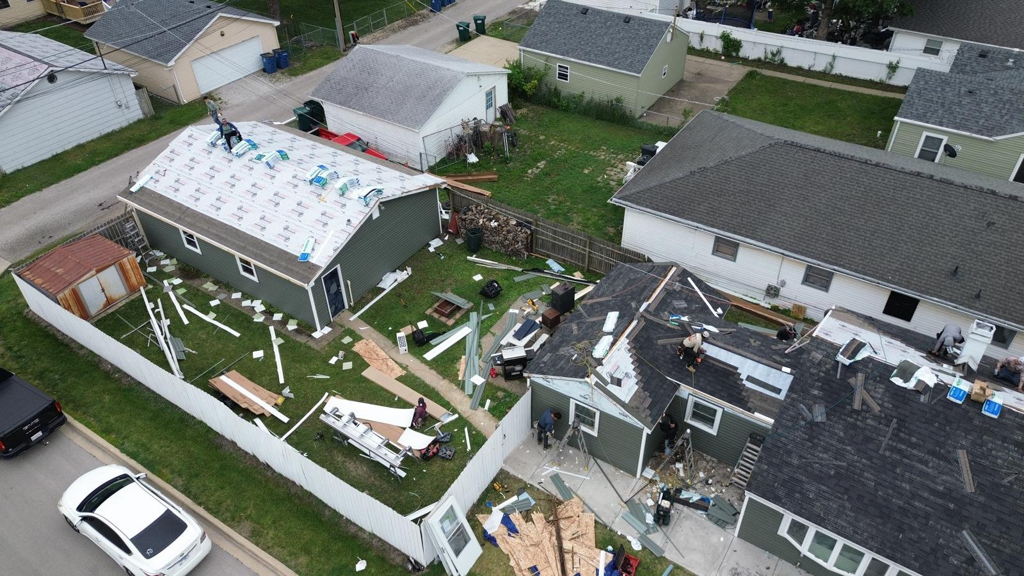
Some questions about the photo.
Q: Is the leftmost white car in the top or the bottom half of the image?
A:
bottom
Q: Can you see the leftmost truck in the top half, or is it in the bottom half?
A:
bottom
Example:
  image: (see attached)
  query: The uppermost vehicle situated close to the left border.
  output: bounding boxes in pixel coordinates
[0,355,71,469]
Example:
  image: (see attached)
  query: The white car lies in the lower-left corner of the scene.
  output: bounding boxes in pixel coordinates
[62,469,217,576]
